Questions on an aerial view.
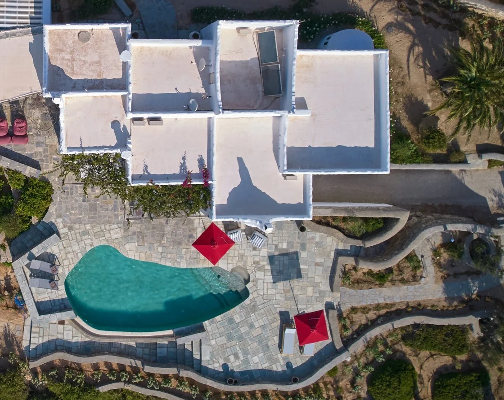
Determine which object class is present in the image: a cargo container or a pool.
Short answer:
pool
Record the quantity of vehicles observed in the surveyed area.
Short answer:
zero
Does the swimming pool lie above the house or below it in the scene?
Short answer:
below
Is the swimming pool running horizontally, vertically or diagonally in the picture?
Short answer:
horizontally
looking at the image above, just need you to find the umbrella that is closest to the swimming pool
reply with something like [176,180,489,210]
[192,222,235,265]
